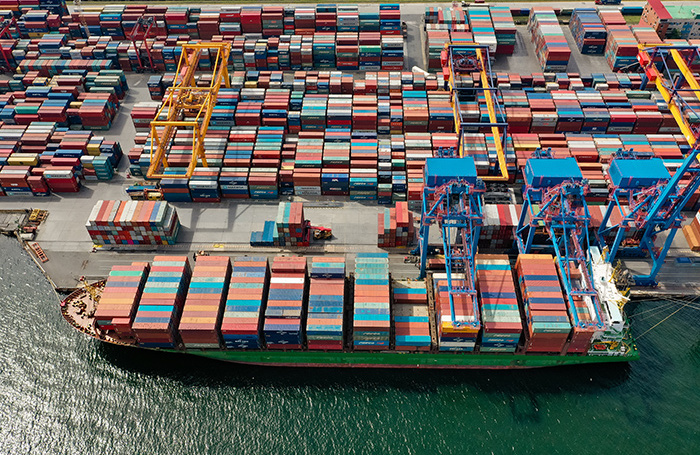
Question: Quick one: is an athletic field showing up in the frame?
No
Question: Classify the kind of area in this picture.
port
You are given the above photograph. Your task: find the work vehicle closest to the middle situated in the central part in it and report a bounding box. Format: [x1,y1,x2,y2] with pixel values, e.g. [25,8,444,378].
[300,218,332,242]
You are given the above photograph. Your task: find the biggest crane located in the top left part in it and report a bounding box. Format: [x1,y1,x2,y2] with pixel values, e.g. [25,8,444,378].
[147,42,228,178]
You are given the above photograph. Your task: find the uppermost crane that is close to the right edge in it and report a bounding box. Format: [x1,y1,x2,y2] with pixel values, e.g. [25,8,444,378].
[628,40,700,177]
